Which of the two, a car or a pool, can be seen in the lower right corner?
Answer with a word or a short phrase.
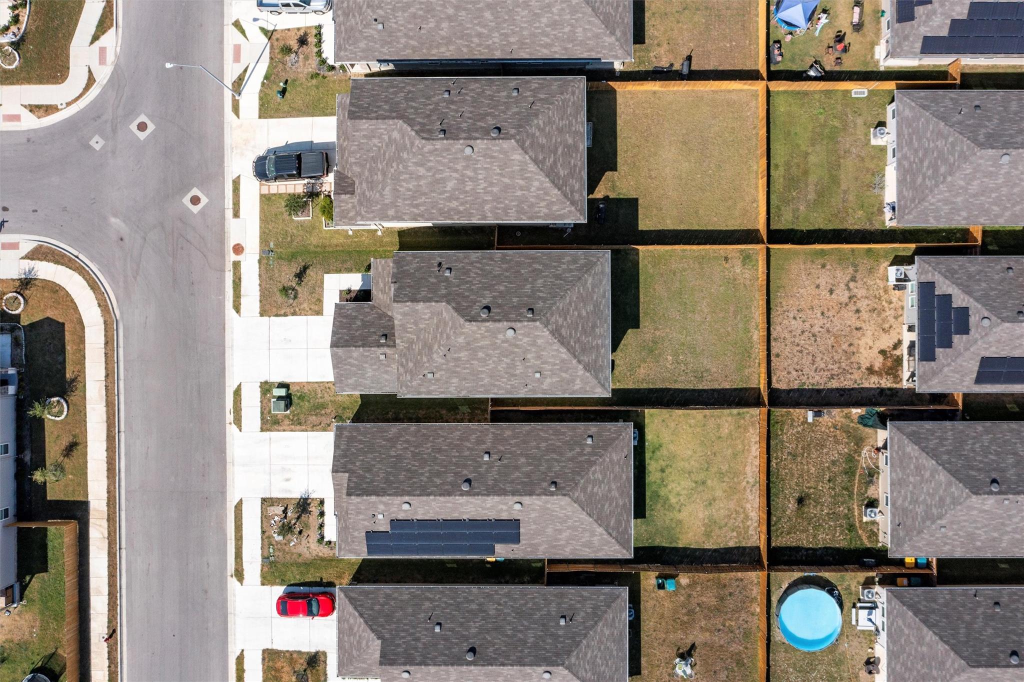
pool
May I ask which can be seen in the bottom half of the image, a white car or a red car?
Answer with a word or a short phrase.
red car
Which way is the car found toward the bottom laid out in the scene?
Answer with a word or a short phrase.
from left to right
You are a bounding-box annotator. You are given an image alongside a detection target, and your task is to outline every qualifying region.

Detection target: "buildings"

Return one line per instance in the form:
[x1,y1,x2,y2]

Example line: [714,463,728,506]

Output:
[329,423,634,558]
[331,0,633,82]
[870,0,1024,80]
[879,90,1024,236]
[874,583,1024,682]
[877,421,1024,557]
[336,581,627,682]
[0,367,35,613]
[902,256,1024,392]
[331,76,586,243]
[330,250,612,397]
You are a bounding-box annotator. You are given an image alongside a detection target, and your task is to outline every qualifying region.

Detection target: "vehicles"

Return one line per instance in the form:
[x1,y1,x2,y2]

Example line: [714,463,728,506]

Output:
[249,149,332,184]
[256,0,331,13]
[276,592,336,622]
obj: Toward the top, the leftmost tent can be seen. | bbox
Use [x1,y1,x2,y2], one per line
[768,0,818,42]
